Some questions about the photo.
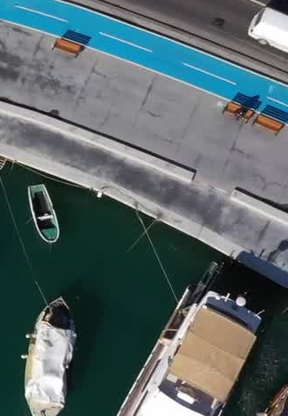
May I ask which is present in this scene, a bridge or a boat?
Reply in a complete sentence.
It is a boat that can be seen here.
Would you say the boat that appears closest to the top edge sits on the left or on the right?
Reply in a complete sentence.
You can find the boat that appears closest to the top edge on the left side of the picture.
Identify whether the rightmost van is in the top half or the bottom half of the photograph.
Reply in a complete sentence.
The rightmost van is in the top half of the image.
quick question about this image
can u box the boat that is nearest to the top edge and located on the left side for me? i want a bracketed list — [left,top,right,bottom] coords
[27,183,59,244]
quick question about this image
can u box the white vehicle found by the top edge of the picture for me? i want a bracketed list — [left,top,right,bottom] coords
[253,7,288,54]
